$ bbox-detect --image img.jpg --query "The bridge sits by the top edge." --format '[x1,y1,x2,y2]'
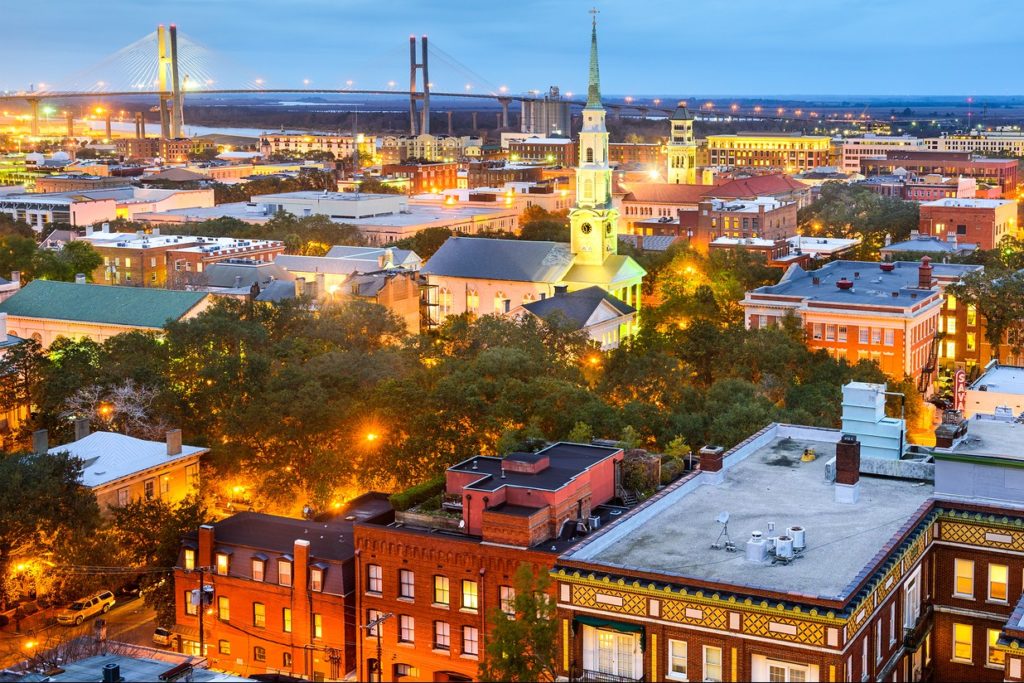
[0,25,771,137]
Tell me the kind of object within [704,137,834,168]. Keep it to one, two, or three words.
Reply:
building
